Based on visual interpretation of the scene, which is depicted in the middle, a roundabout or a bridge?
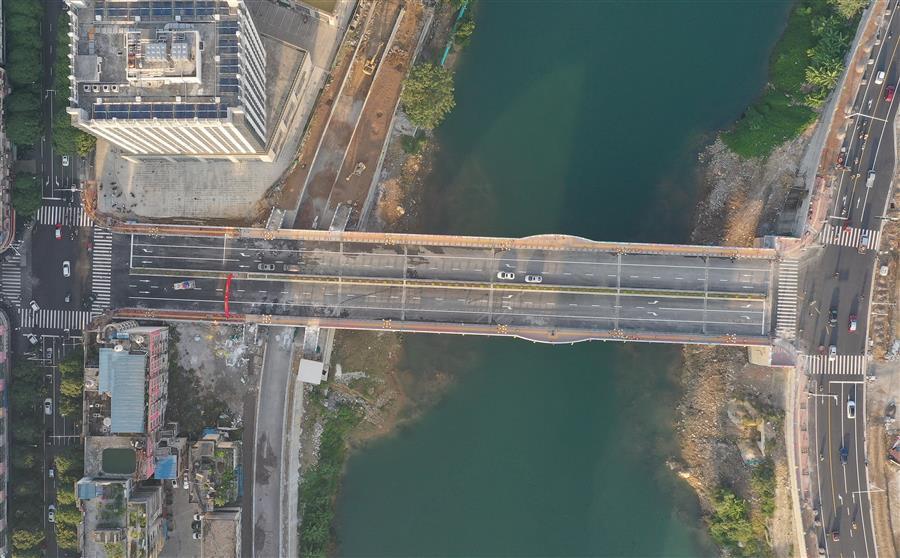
bridge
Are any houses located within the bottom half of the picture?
Yes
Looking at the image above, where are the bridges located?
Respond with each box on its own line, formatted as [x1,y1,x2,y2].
[107,221,779,347]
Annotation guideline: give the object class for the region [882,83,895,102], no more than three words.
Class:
vehicle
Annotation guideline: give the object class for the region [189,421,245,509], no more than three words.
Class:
house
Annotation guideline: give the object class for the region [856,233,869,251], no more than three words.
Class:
vehicle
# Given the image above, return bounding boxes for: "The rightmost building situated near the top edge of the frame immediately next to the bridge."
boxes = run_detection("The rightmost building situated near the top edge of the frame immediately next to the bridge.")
[71,0,308,168]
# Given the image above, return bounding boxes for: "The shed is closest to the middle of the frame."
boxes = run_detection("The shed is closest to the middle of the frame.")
[298,359,329,384]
